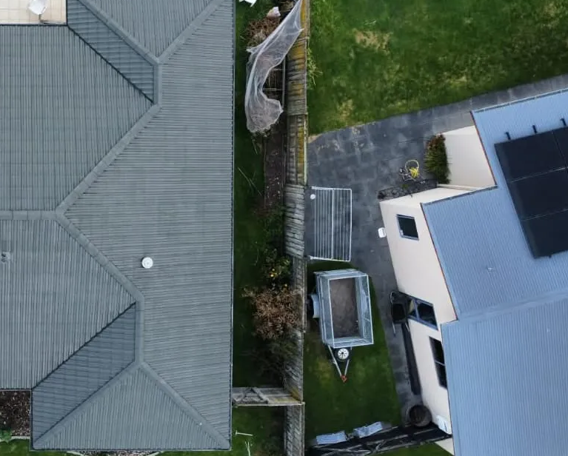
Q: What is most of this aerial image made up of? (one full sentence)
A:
The largest share of the image is taken up by buildings.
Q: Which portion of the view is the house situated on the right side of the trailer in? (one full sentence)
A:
The house situated on the right side of the trailer is located in the right region of the scene.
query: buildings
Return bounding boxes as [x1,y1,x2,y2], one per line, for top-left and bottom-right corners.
[381,86,568,456]
[0,0,237,453]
